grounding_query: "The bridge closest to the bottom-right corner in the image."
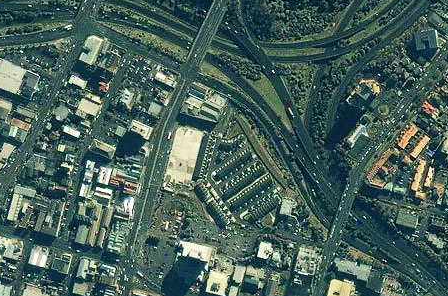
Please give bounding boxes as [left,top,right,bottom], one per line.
[325,167,363,250]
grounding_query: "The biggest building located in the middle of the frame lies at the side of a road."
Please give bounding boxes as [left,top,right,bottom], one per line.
[165,126,206,182]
